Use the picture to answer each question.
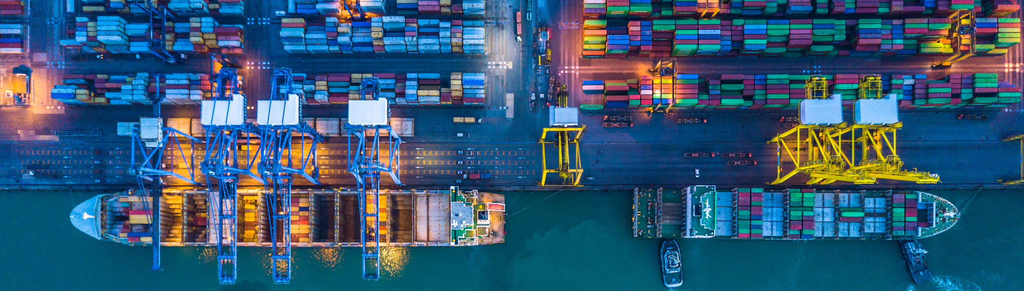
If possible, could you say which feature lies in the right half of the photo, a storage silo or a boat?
boat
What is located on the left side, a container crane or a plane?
container crane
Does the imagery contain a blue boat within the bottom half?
Yes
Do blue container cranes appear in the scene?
Yes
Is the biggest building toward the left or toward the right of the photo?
left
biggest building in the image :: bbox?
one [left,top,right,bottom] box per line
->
[4,69,41,112]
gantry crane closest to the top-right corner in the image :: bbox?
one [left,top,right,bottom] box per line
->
[937,9,976,66]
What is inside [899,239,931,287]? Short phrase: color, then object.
blue boat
